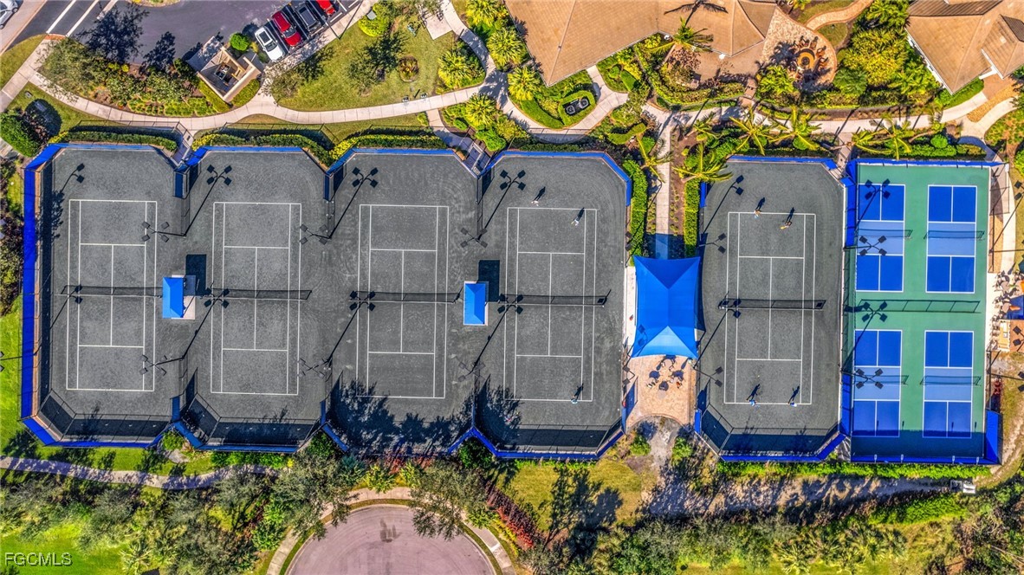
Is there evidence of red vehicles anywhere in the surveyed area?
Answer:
Yes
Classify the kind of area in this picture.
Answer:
sports ground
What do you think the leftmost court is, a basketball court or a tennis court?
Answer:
tennis court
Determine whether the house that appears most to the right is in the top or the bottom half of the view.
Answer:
top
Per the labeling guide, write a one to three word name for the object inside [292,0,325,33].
car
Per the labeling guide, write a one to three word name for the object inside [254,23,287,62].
car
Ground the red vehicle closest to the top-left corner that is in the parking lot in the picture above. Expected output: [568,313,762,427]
[271,7,303,47]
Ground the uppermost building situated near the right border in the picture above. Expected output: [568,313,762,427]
[903,0,1024,94]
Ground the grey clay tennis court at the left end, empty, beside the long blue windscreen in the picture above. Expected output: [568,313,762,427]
[36,150,184,441]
